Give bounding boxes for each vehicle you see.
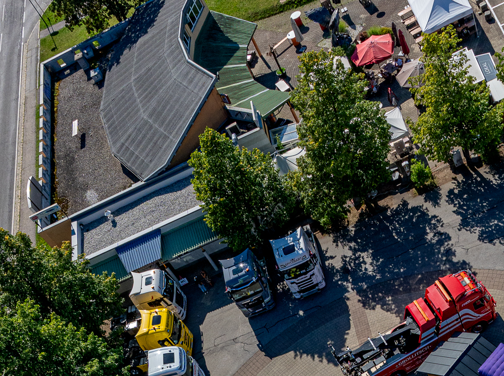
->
[221,243,276,320]
[272,222,325,299]
[115,304,198,376]
[109,266,189,340]
[319,266,498,376]
[152,341,210,376]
